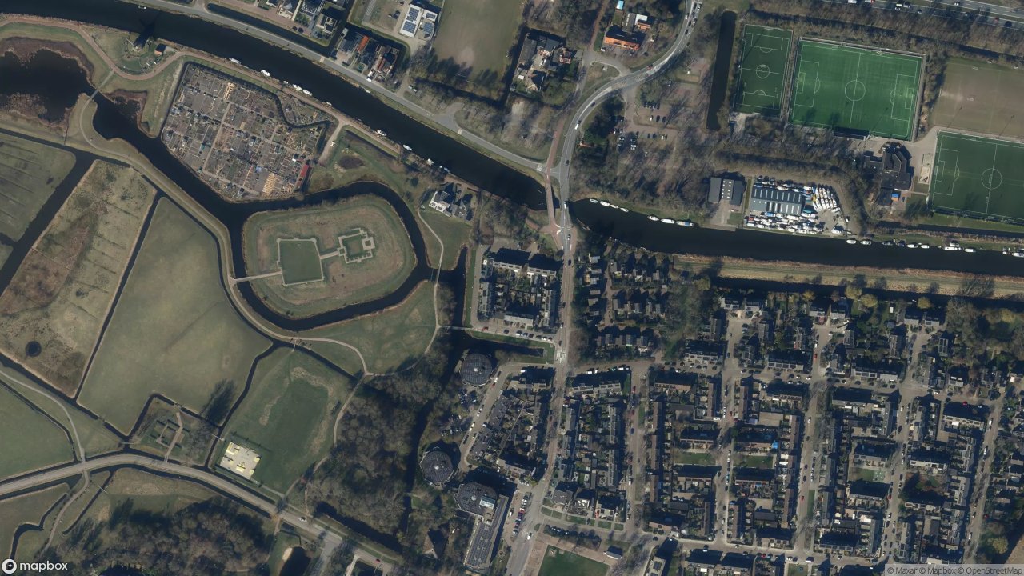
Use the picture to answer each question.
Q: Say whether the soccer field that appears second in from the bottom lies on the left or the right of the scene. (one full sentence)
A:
You can find the soccer field that appears second in from the bottom on the right side of the picture.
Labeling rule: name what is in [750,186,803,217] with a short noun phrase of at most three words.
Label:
building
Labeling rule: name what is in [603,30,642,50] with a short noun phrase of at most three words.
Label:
house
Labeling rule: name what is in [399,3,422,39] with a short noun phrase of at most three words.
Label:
building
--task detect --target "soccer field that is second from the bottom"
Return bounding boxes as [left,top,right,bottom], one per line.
[929,131,1024,224]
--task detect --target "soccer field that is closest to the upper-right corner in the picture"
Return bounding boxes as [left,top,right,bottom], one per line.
[941,61,1024,136]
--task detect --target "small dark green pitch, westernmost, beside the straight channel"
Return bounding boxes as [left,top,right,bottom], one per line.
[733,24,793,118]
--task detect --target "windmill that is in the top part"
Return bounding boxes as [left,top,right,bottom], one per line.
[126,41,143,57]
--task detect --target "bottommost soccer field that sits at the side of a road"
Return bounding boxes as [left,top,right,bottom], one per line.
[537,546,611,576]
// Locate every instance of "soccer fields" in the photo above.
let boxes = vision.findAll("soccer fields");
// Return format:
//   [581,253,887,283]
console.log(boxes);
[537,546,611,576]
[733,24,793,118]
[941,61,1024,136]
[929,131,1024,224]
[788,37,926,141]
